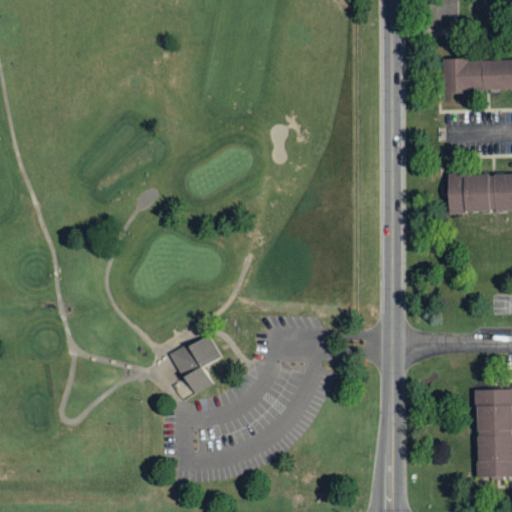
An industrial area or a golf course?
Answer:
golf course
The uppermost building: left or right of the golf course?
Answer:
to the right of it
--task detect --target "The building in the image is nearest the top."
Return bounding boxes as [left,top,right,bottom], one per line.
[443,60,512,95]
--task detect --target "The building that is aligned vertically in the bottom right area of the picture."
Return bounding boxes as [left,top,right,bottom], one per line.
[474,390,512,478]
